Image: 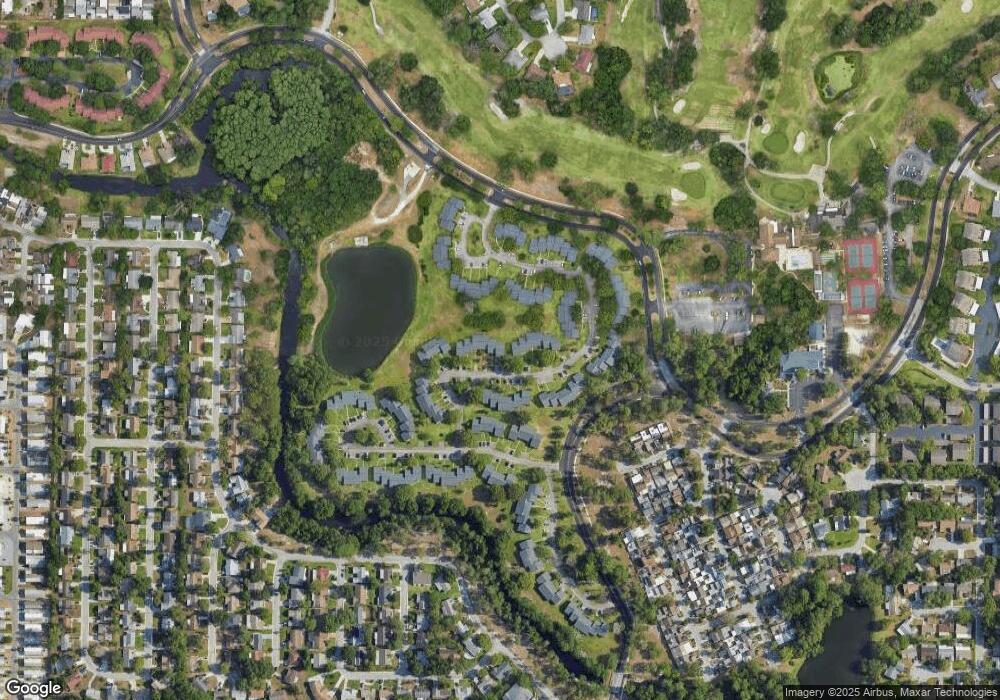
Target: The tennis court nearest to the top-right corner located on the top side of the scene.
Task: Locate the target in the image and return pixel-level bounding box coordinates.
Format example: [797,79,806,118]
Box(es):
[845,238,877,273]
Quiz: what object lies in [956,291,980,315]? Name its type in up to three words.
house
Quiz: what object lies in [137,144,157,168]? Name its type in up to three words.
house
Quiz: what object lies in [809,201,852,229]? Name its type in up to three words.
building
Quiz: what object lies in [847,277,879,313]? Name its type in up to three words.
tennis court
